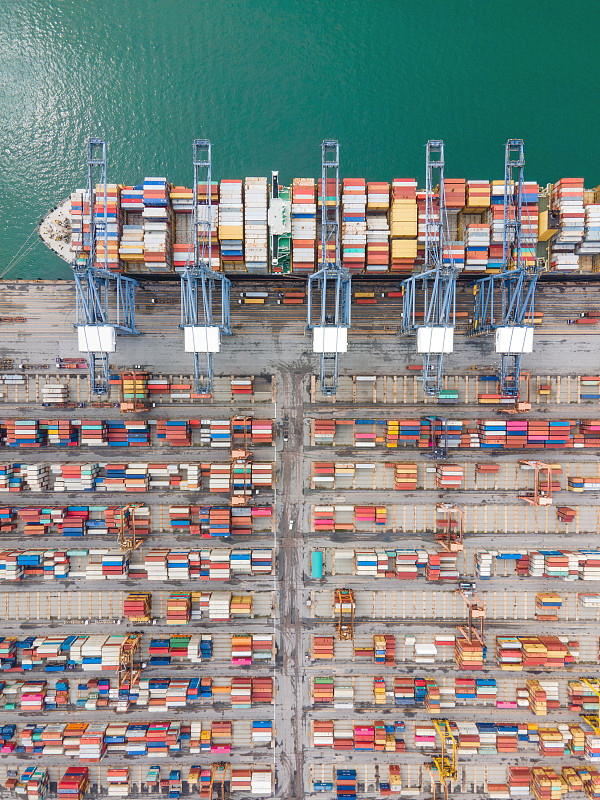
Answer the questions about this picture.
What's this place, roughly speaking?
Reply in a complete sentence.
What you see here is a port.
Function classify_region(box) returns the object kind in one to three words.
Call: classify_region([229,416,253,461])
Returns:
container crane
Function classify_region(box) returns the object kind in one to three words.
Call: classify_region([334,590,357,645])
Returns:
container crane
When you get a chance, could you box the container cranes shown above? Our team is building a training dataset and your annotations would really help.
[120,371,150,415]
[462,138,541,393]
[423,416,451,461]
[118,633,146,690]
[498,371,534,415]
[302,139,352,393]
[229,416,253,461]
[435,503,466,554]
[72,138,148,393]
[120,503,147,552]
[229,460,254,507]
[208,762,231,800]
[179,138,239,393]
[394,138,456,393]
[334,590,357,645]
[430,720,459,784]
[580,676,600,735]
[454,590,486,644]
[517,460,553,508]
